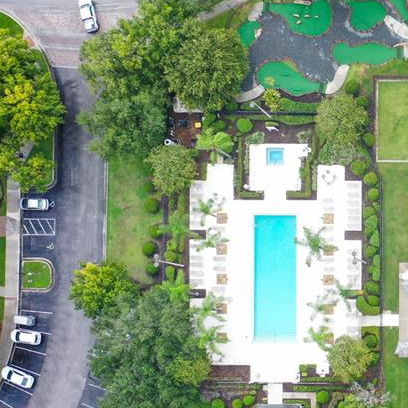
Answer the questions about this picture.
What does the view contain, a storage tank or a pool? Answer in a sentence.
The one in the frame is a pool.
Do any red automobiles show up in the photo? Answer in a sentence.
No, this view has no red automobile in it.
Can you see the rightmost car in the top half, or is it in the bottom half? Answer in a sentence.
The top half of the photo is where the rightmost car is.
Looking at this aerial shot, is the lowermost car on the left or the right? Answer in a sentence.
The lowermost car sits on the left side.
